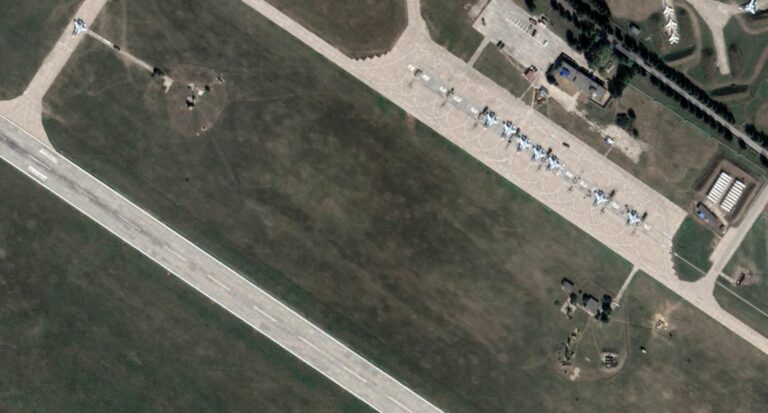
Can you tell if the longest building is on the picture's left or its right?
right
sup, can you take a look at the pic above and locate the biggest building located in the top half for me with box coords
[558,62,610,106]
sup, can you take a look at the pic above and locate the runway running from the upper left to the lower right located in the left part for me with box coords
[0,114,444,413]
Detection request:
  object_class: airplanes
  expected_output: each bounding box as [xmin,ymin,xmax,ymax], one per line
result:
[669,34,680,46]
[742,1,760,13]
[663,4,673,17]
[505,121,517,138]
[596,188,608,205]
[667,19,676,31]
[549,154,561,171]
[628,208,640,225]
[519,134,531,151]
[533,144,547,161]
[486,110,498,127]
[73,16,86,33]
